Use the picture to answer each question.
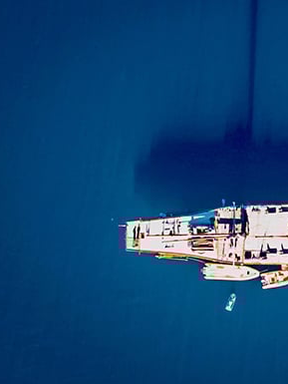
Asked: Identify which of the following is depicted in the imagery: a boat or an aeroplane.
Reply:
boat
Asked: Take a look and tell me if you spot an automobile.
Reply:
No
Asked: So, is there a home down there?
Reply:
No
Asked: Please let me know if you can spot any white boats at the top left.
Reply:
No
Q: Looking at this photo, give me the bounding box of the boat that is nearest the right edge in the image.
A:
[260,271,288,290]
